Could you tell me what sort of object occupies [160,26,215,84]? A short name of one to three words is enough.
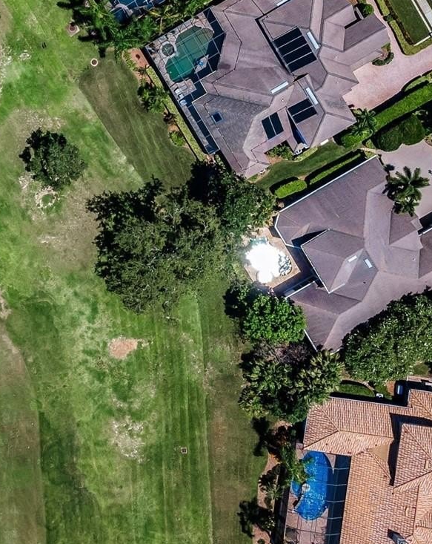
swimming pool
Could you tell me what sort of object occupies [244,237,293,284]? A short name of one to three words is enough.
swimming pool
